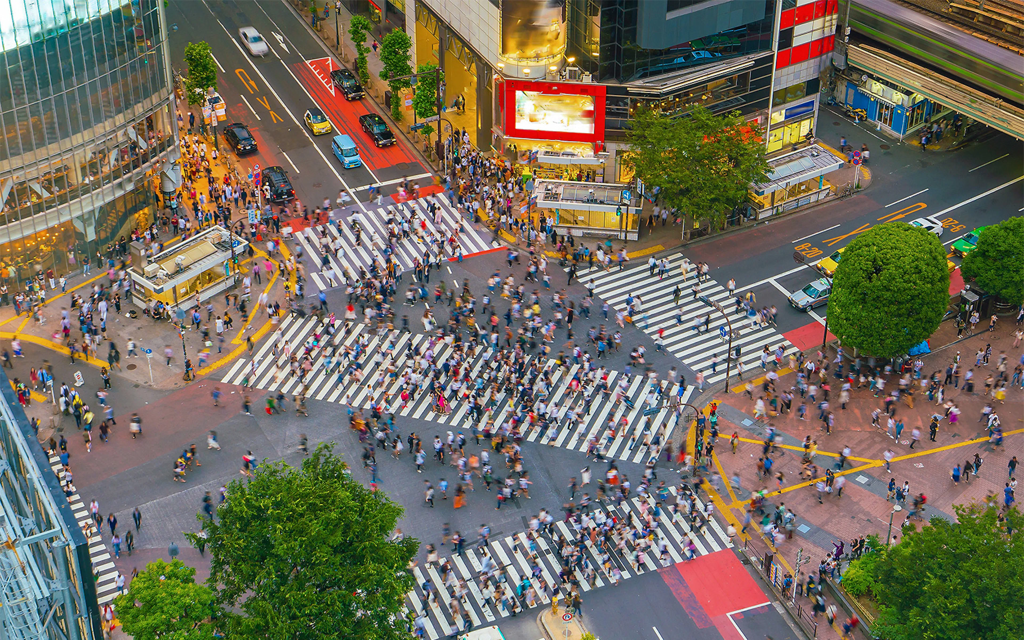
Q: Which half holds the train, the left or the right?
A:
right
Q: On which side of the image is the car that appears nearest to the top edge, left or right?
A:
left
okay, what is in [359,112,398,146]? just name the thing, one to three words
car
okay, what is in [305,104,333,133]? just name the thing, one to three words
car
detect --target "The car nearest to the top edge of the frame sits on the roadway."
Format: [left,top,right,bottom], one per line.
[237,27,270,55]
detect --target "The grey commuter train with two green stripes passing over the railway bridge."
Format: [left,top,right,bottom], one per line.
[837,0,1024,105]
